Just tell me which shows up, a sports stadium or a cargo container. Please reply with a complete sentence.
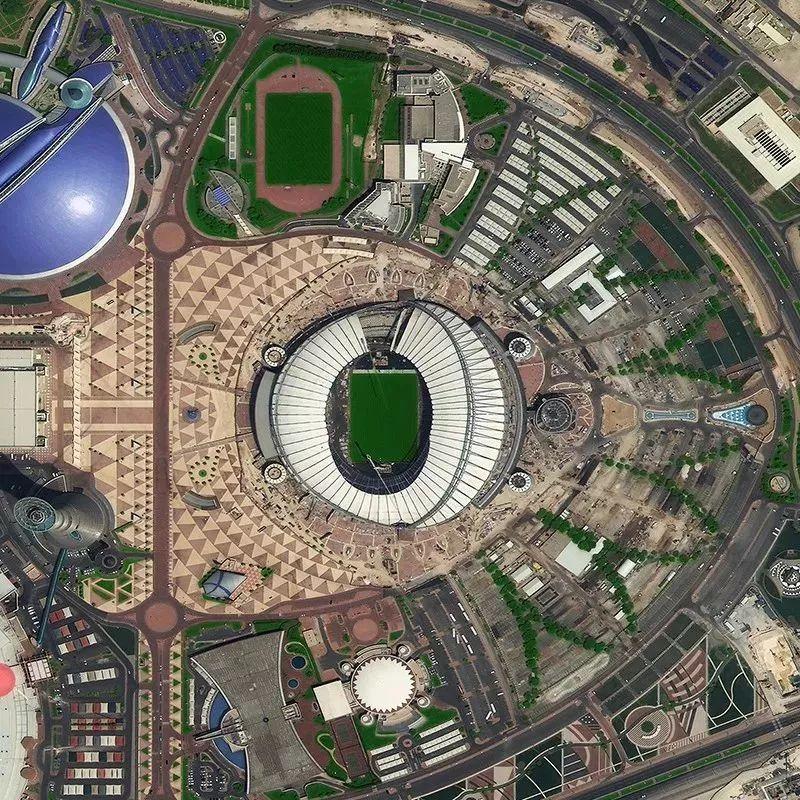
I can see a sports stadium in this picture.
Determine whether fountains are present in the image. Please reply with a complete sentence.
Yes, the photo shows a fountain.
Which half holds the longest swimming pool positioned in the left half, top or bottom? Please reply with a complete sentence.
It is in the bottom half that the longest swimming pool positioned in the left half appears.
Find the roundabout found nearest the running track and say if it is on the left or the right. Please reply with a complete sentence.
The roundabout found nearest the running track is on the left side of the image.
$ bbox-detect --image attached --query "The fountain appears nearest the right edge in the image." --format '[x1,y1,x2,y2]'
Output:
[709,403,752,428]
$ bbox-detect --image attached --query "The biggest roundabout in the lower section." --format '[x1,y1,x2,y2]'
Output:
[134,590,188,643]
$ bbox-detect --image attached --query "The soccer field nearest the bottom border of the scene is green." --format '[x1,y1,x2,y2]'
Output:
[350,372,417,463]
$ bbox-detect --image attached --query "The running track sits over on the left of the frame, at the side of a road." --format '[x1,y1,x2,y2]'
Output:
[256,64,342,215]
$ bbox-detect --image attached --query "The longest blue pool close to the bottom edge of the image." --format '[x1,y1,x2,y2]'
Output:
[209,691,247,771]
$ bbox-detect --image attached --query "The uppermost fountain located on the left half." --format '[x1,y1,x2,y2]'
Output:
[184,405,202,423]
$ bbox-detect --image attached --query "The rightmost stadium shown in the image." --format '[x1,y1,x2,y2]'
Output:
[249,299,534,533]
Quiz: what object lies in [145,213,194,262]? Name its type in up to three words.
roundabout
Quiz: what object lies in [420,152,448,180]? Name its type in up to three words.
building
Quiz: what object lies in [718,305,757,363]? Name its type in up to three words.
tennis court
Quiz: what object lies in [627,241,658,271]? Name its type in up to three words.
tennis court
